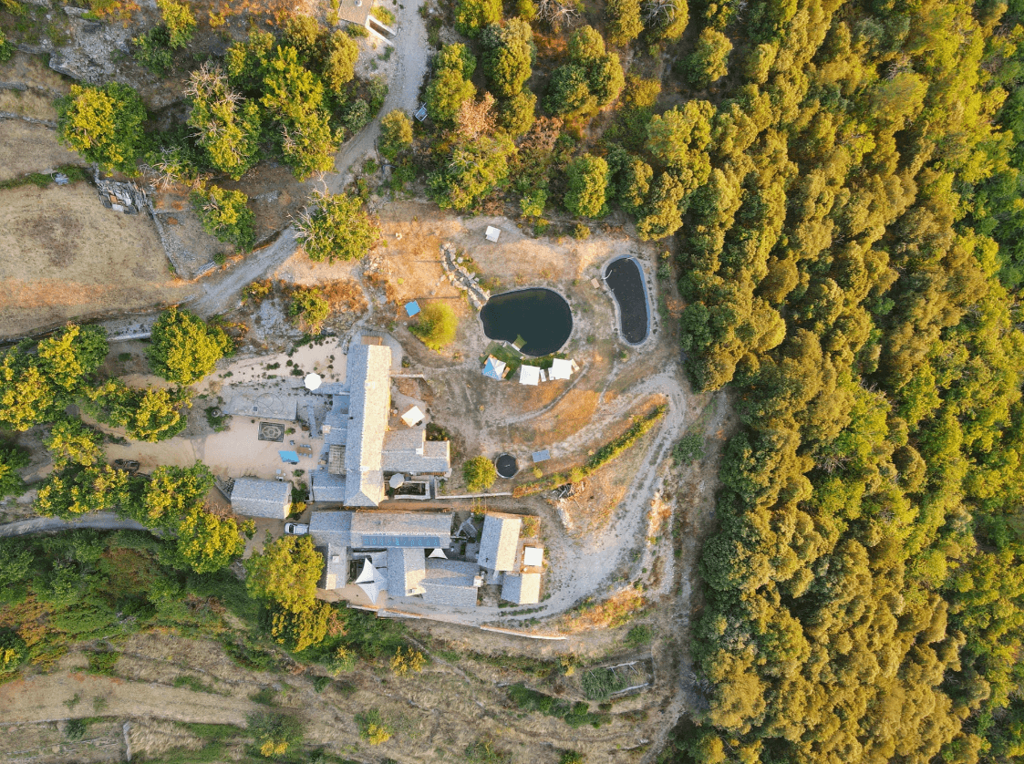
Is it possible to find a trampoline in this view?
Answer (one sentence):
Yes, a trampoline is visible in the scene.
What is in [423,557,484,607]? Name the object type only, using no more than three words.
house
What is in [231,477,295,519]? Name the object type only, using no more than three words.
building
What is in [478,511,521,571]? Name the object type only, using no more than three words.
house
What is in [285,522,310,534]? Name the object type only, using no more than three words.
vehicle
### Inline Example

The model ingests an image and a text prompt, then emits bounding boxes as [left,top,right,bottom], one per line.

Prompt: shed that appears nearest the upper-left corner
[338,0,379,34]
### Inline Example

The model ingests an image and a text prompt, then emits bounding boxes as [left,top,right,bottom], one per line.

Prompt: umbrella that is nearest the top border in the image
[305,374,321,390]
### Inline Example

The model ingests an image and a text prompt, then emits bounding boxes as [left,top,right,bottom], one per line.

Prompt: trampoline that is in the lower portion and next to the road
[495,454,519,479]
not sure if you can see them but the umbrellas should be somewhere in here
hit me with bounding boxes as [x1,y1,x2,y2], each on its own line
[390,474,404,488]
[305,374,321,390]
